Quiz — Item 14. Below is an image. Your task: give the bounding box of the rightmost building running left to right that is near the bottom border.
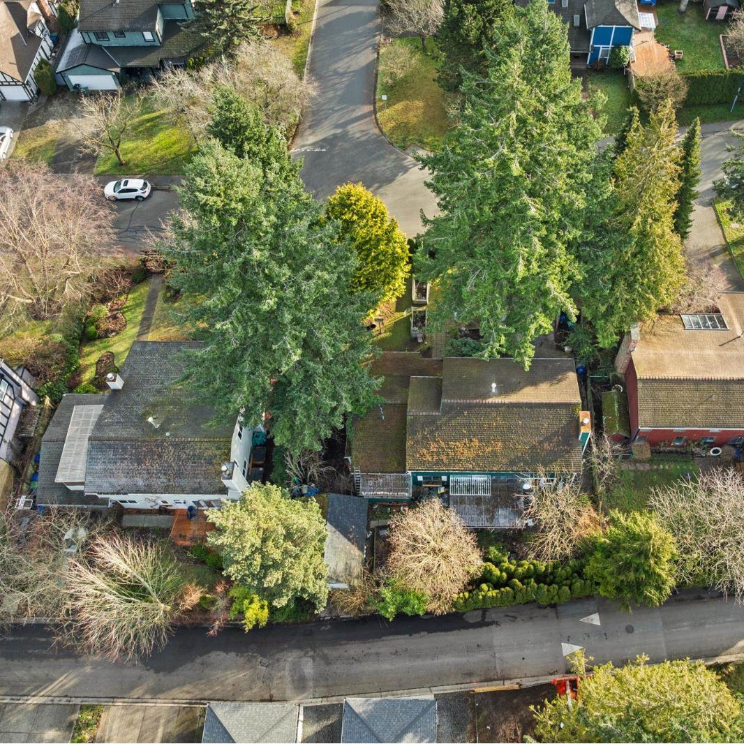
[339,697,436,744]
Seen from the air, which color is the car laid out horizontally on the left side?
white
